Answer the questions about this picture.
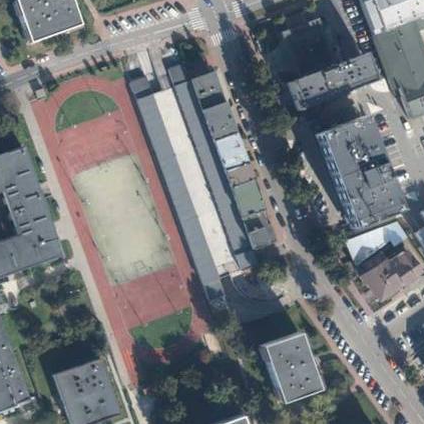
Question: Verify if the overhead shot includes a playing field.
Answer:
Yes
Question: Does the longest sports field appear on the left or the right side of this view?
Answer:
left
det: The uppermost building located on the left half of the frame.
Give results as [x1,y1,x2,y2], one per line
[13,0,84,43]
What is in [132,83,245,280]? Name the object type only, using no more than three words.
building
